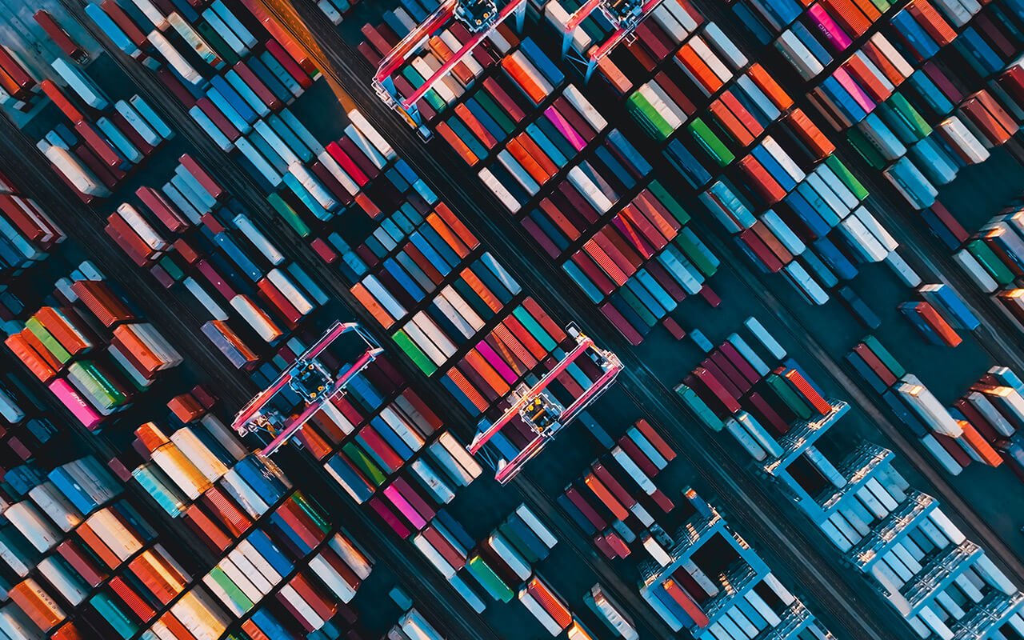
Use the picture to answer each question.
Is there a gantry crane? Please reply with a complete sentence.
Yes, there's a gantry crane here.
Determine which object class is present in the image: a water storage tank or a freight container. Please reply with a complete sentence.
Looking from above, you can make out a freight container.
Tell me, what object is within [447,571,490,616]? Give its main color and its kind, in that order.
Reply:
blue shipping container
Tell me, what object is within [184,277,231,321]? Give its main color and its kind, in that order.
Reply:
blue shipping container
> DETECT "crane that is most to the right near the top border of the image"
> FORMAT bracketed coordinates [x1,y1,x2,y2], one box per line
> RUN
[557,0,662,89]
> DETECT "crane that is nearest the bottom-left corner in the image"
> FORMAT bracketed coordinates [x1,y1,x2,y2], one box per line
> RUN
[233,317,396,470]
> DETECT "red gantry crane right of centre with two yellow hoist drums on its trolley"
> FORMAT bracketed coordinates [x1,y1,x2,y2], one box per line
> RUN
[468,321,621,483]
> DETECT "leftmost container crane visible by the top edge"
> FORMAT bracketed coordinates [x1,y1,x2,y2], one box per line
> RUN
[372,0,525,139]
